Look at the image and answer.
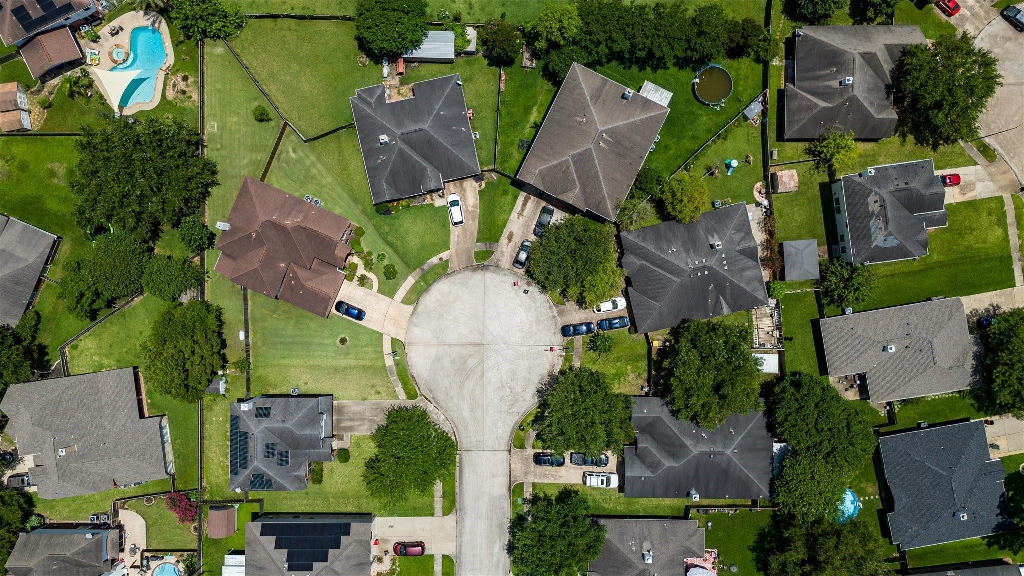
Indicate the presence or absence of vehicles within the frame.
Yes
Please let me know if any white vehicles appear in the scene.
Yes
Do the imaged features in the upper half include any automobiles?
Yes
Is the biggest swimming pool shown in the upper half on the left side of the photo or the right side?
left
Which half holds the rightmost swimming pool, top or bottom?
bottom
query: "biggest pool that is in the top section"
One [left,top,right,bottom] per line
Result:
[109,24,169,109]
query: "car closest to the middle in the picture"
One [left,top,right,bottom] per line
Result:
[512,239,532,271]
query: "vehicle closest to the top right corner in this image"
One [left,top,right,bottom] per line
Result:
[998,5,1024,35]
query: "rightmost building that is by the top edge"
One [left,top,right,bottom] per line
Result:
[781,25,931,140]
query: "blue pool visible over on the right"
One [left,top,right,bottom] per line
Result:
[841,490,866,521]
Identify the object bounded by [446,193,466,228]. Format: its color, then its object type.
white car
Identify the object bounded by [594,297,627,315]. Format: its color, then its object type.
white car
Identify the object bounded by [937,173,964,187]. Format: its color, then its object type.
red car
